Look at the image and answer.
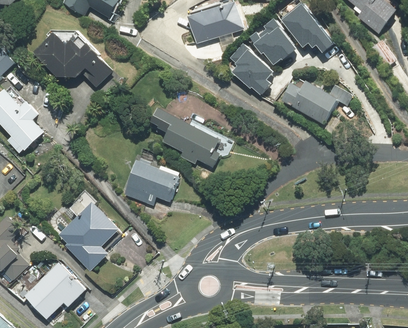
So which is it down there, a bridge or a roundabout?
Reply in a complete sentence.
Visible in the photo is a roundabout.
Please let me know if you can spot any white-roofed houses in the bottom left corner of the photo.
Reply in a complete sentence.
Yes, the scene does show a white-roofed house in the bottom left corner of the photo.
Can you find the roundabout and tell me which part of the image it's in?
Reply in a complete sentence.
You can find the roundabout in the bottom area of the picture.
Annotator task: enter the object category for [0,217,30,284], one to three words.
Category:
house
